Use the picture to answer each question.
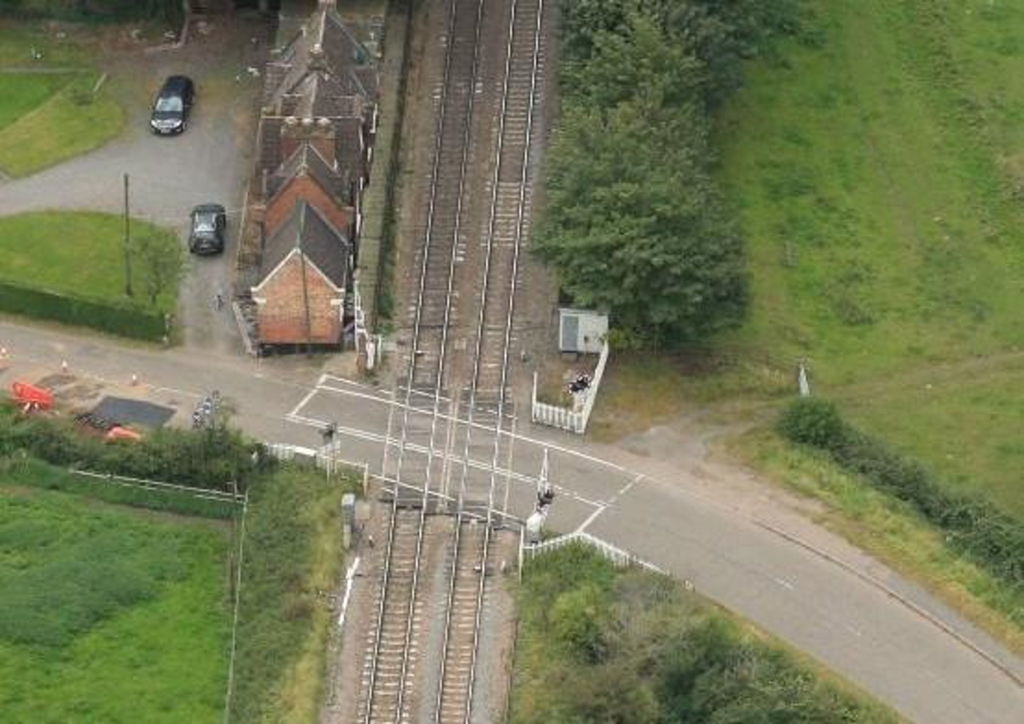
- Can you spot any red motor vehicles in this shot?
No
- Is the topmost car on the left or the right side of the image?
left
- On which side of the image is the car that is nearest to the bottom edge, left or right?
left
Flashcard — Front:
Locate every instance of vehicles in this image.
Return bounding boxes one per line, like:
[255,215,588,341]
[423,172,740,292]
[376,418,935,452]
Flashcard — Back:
[189,202,228,250]
[153,75,197,132]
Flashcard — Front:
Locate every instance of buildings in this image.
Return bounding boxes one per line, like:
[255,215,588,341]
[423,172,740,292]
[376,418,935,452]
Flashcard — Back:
[246,0,391,348]
[557,302,609,358]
